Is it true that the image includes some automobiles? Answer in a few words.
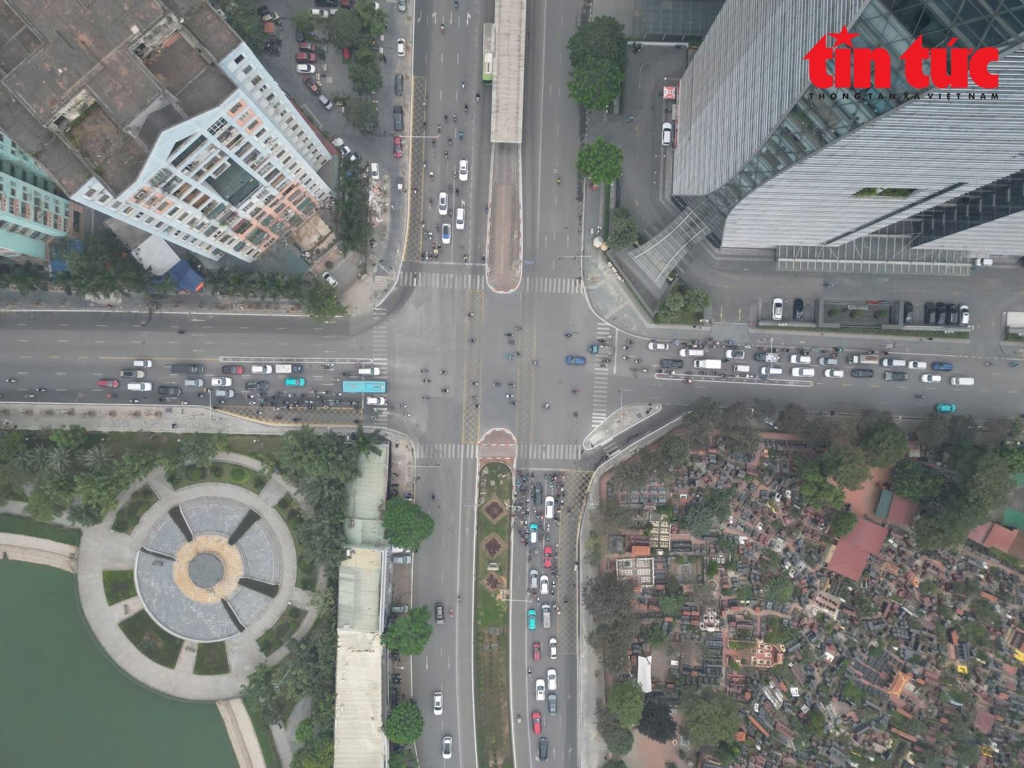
Yes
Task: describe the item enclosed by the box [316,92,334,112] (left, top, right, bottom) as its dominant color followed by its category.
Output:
gray car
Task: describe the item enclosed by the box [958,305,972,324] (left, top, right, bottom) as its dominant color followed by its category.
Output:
white car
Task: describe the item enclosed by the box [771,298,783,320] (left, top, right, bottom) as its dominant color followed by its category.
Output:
white vehicle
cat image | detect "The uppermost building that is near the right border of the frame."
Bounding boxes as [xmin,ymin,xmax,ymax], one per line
[671,0,1024,249]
